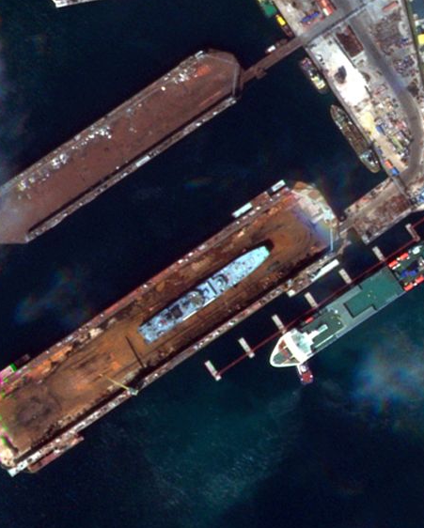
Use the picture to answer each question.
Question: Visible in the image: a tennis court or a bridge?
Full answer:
Looking from above, you can make out a bridge.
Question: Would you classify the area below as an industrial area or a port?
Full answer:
The area seen from above is a port.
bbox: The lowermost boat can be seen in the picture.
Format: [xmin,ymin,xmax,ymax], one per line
[300,362,314,385]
